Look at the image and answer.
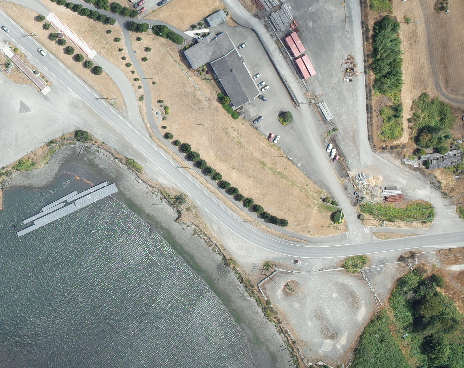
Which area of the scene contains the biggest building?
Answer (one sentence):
The biggest building sits in the top section of the image.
